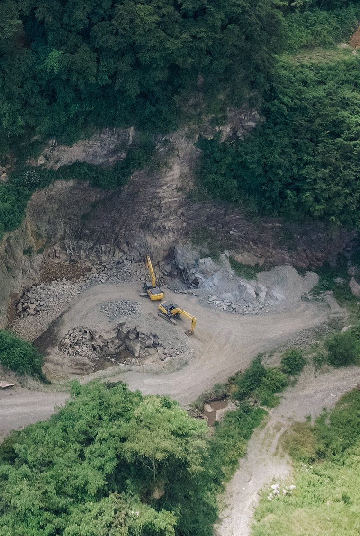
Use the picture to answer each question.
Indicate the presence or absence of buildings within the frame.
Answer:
No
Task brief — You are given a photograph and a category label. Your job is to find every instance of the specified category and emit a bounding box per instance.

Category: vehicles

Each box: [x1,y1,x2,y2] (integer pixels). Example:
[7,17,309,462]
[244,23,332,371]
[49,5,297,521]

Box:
[134,247,164,300]
[155,300,200,332]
